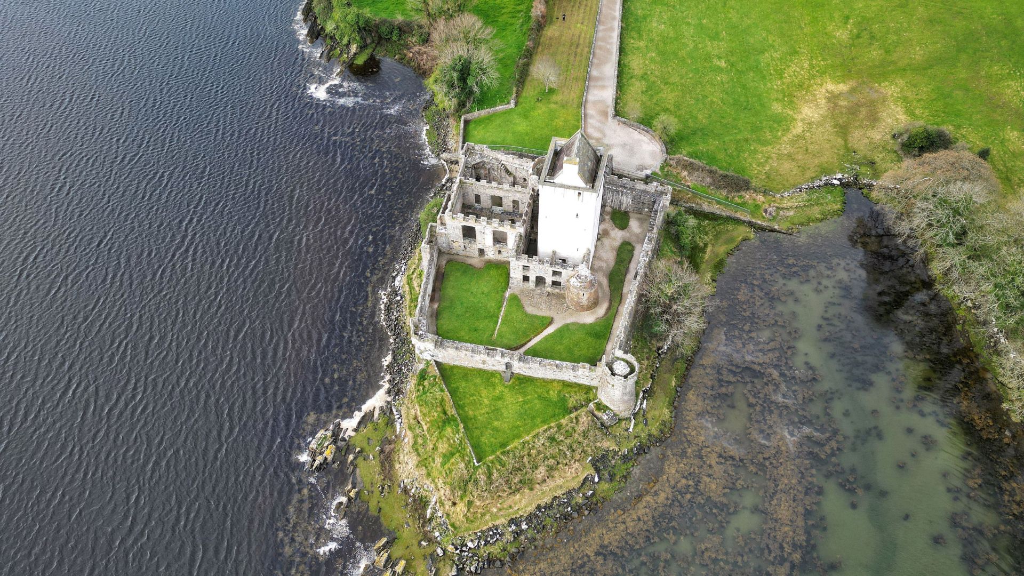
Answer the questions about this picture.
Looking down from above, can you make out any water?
Yes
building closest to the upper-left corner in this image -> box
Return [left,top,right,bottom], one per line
[433,138,545,273]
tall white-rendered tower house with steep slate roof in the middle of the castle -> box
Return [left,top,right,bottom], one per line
[537,129,608,260]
